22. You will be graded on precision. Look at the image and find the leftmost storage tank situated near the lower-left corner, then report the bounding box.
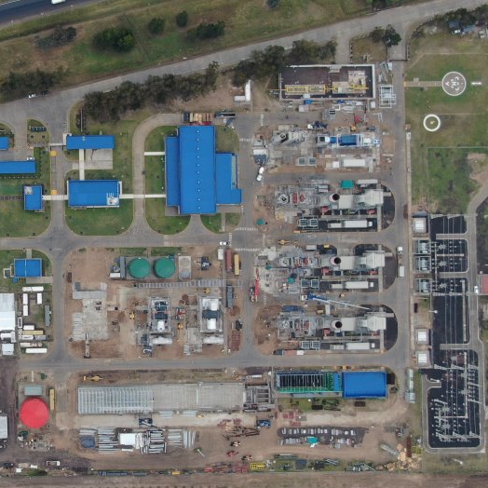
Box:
[19,396,48,428]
